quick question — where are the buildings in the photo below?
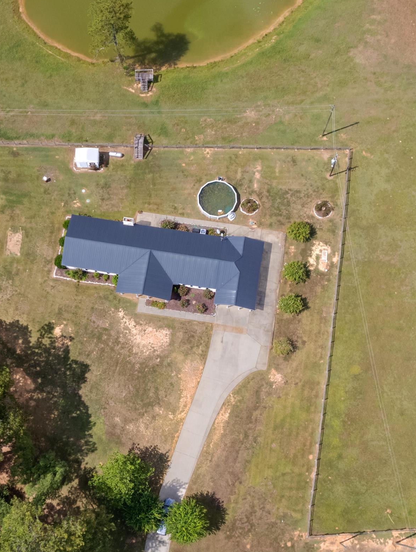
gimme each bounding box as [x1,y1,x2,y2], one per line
[75,147,99,170]
[61,214,264,312]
